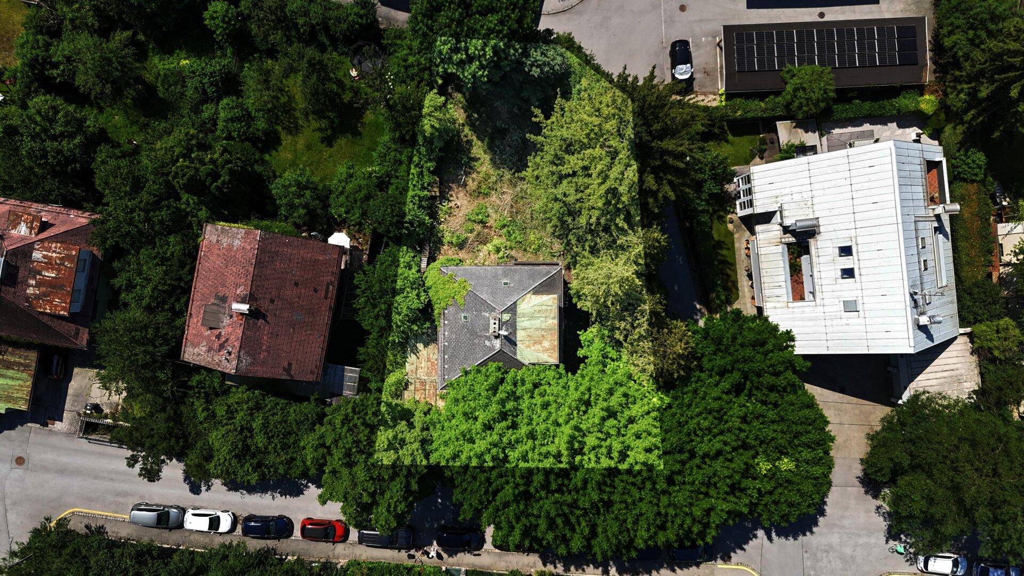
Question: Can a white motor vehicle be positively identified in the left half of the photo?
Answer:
Yes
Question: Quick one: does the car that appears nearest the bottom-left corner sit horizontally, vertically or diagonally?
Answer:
horizontally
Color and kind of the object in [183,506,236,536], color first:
white car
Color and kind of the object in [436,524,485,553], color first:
black car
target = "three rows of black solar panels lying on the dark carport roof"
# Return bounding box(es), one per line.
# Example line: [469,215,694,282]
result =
[735,25,918,71]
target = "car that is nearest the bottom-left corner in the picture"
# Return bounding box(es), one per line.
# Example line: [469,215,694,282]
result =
[129,501,187,532]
